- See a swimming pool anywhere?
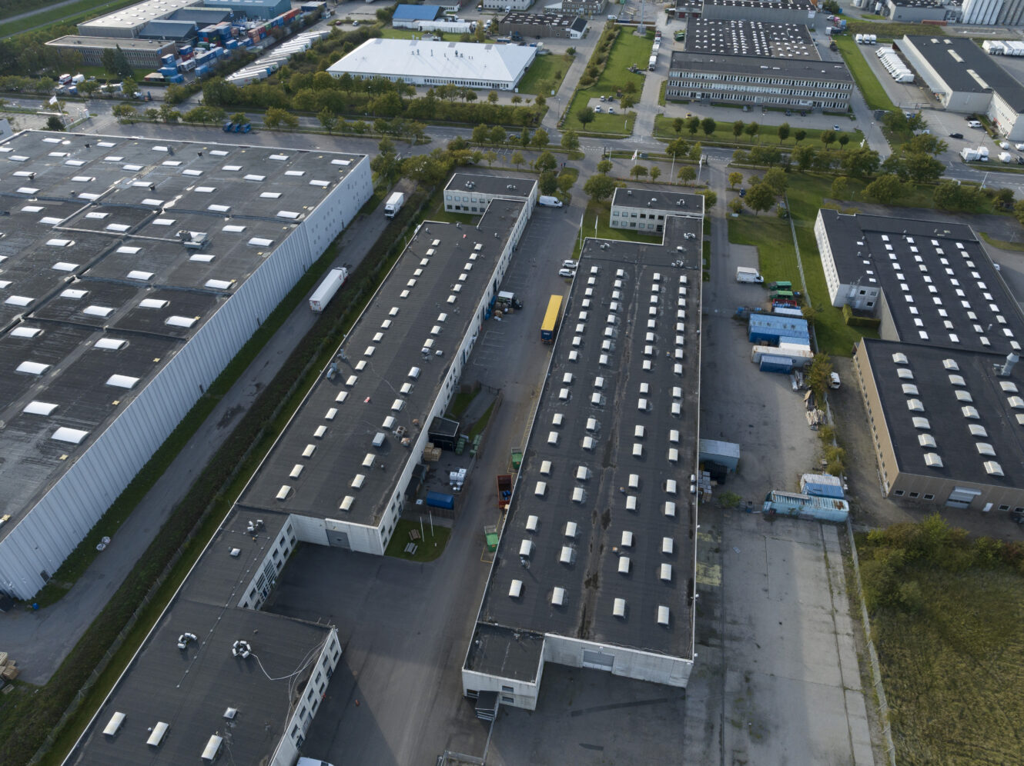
No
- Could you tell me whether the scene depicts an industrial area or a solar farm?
industrial area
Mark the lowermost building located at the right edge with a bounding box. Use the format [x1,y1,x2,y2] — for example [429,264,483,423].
[848,337,1024,515]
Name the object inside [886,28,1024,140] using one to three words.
warehouse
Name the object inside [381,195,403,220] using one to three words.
truck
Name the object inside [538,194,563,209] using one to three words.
vehicle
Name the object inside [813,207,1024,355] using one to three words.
building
